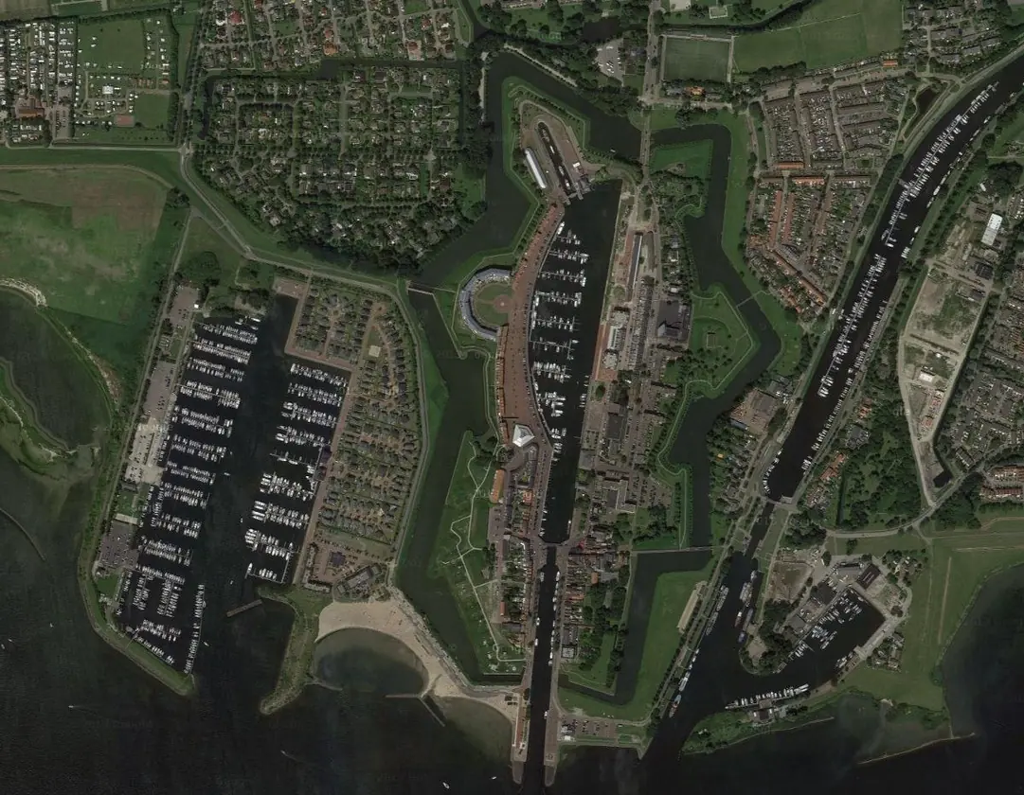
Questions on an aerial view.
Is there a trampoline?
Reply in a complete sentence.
No, I find no trampoline anywhere in the image.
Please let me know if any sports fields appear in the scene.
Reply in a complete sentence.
Yes, looking at the shot, I can spot a sports field.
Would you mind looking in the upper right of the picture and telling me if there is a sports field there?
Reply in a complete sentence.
Yes, there is a sports field in the upper right of the picture.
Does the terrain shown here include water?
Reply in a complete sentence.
Yes, water can be seen from above here.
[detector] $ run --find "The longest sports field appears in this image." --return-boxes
[734,2,904,68]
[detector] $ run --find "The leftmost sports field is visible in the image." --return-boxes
[665,38,729,80]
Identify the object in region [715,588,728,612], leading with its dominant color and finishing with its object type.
gray ship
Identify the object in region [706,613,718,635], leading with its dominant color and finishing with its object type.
gray ship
